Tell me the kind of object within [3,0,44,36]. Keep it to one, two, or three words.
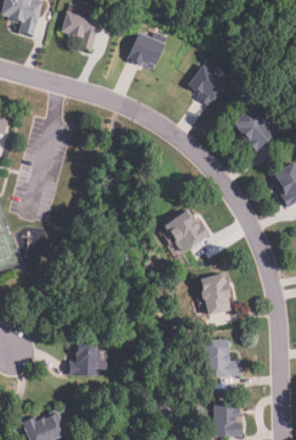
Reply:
house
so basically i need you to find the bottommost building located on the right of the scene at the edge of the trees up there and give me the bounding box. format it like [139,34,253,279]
[214,406,244,440]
